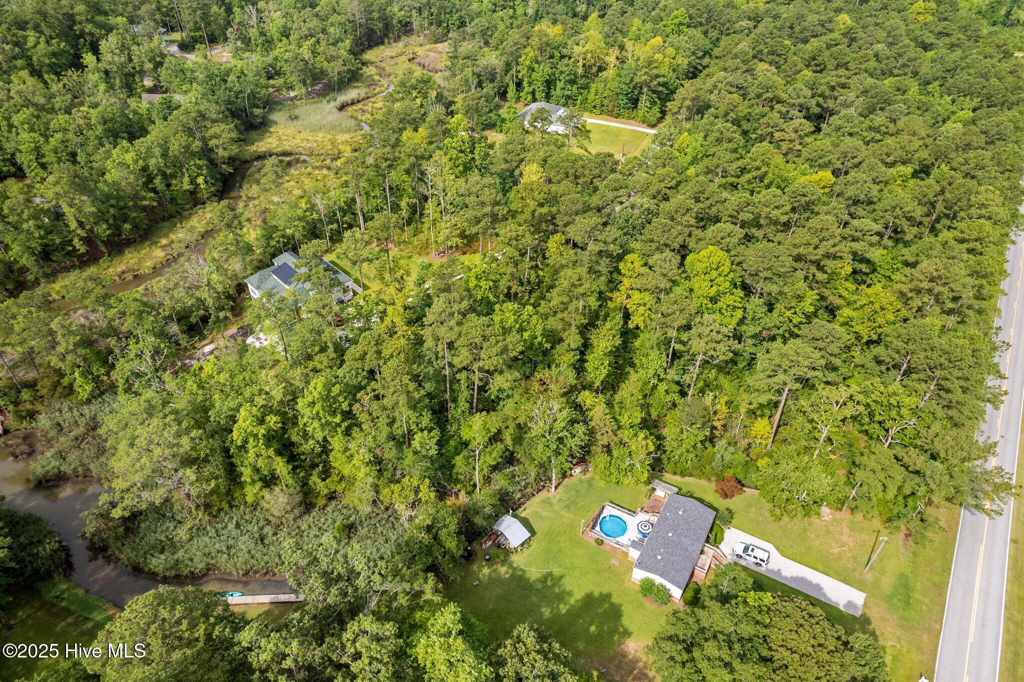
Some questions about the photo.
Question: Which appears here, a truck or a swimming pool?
swimming pool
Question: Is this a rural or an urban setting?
rural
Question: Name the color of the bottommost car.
white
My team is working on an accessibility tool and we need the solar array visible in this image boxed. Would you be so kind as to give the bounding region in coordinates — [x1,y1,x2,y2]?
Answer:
[264,259,304,281]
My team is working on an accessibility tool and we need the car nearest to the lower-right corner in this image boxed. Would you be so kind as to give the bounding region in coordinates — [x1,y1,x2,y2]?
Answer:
[732,543,770,567]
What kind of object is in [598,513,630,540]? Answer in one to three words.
swimming pool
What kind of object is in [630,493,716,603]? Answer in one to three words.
house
